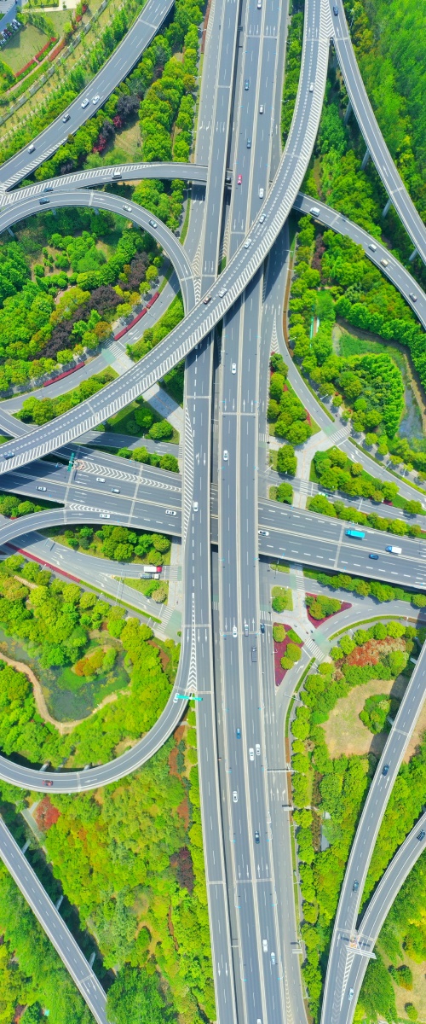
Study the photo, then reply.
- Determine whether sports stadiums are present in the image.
No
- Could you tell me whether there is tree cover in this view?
Yes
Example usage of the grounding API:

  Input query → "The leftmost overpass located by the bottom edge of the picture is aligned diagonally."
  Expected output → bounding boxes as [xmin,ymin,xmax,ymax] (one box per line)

[0,817,126,1024]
